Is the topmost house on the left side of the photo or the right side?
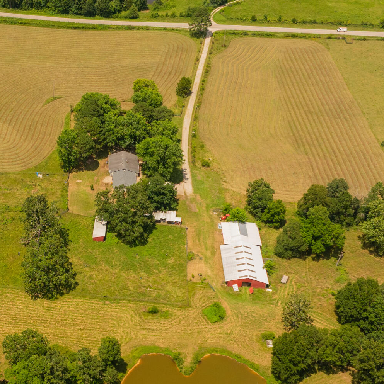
left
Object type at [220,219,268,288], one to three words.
barn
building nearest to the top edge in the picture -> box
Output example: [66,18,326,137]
[103,151,144,195]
